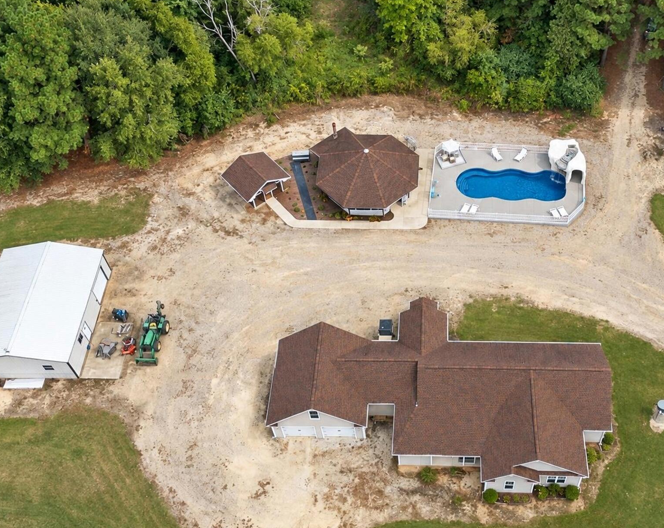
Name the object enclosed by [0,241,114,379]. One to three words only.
building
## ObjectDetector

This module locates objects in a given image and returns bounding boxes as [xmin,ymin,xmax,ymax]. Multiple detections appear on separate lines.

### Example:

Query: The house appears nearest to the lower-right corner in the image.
[265,297,613,493]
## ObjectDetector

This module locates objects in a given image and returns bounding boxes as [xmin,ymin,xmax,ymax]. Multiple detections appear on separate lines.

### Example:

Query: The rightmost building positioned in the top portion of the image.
[308,118,422,218]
